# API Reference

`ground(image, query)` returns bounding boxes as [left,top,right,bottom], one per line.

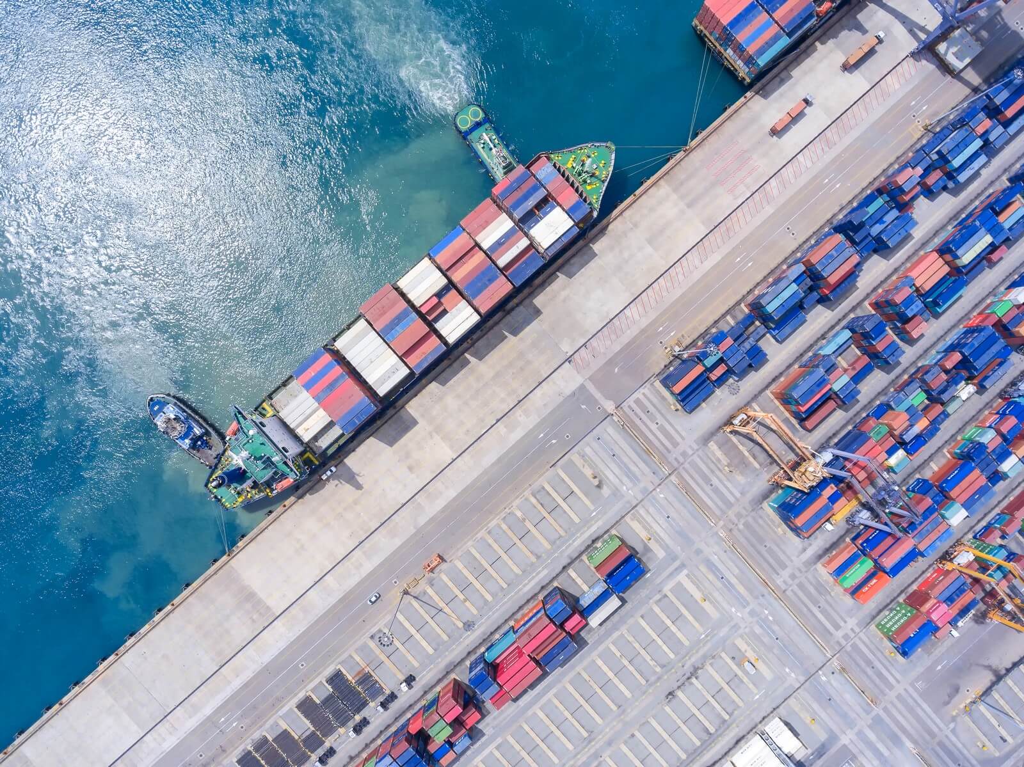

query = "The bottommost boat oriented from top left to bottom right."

[145,391,227,468]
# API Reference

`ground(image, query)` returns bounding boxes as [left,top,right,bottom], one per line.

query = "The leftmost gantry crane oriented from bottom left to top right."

[906,0,992,60]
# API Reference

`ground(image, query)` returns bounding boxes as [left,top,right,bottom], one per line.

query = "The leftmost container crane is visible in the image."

[720,398,830,496]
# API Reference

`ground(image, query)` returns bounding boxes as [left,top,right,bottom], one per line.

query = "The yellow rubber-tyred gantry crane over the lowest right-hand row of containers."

[939,534,1024,630]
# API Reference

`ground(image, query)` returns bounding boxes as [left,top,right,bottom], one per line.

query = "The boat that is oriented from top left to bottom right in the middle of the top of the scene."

[453,102,520,183]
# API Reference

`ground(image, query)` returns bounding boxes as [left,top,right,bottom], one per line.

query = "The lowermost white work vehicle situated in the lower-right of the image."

[740,658,757,676]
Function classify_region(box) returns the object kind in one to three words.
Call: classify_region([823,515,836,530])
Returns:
vehicle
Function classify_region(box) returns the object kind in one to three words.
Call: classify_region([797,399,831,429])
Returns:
shipping container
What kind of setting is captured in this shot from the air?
port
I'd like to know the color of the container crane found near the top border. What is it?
blue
